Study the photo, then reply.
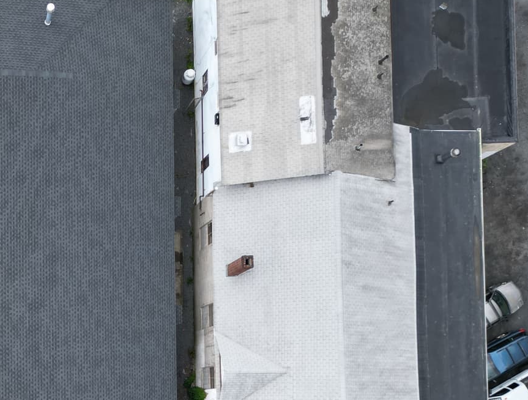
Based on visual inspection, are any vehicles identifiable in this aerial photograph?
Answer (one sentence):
Yes, the image includes a vehicle.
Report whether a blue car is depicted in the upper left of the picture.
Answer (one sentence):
No, I can find no blue car in the upper left of the picture.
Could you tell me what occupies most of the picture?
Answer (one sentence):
Most of the picture is covered by buildings.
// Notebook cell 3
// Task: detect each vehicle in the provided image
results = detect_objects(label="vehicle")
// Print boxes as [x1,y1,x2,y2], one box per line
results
[489,330,528,392]
[487,279,527,331]
[489,368,528,400]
